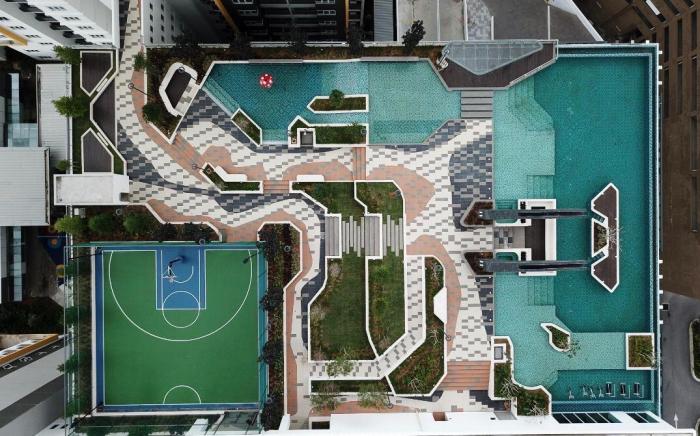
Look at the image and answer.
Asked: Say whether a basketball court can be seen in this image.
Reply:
Yes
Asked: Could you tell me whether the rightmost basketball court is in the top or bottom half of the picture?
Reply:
bottom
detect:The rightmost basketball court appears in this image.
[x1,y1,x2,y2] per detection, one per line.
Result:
[92,243,265,415]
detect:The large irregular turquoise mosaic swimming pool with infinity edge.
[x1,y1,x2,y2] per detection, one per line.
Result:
[202,40,665,422]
